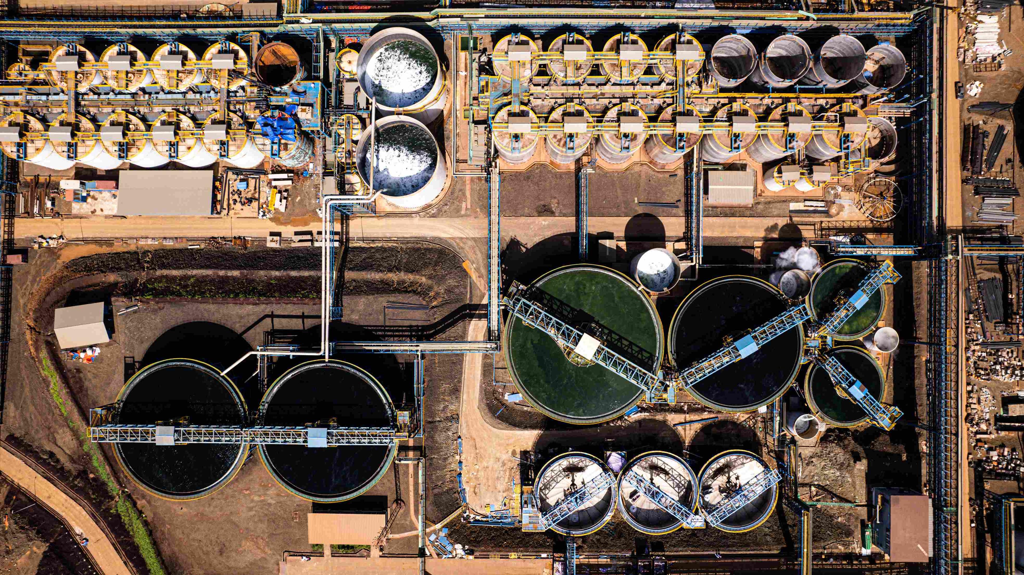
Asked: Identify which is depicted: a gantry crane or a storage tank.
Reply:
storage tank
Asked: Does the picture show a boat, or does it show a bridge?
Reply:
bridge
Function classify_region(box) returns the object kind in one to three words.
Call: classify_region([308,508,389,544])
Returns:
building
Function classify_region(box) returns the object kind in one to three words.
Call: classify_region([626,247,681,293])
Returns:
storage tank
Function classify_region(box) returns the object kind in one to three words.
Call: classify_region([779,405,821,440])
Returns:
storage tank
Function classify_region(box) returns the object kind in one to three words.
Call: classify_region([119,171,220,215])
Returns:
building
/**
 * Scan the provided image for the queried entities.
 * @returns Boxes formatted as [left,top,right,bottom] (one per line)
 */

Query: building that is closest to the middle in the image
[598,239,616,262]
